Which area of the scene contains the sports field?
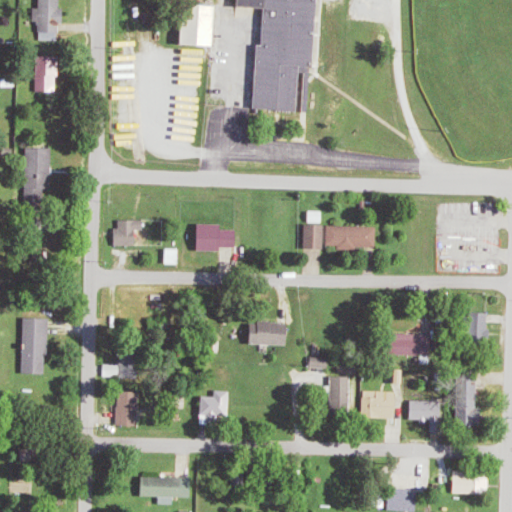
top right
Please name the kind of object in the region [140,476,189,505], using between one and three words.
house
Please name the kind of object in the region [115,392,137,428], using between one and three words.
house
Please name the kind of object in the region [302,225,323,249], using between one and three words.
building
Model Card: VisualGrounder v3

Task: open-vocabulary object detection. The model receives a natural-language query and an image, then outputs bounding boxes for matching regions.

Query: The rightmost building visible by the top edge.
[236,0,315,116]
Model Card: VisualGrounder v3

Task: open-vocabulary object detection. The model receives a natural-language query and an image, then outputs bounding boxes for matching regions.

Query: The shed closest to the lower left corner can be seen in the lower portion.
[8,482,32,495]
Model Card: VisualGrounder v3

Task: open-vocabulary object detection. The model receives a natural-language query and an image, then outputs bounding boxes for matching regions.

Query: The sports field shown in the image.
[412,0,512,162]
